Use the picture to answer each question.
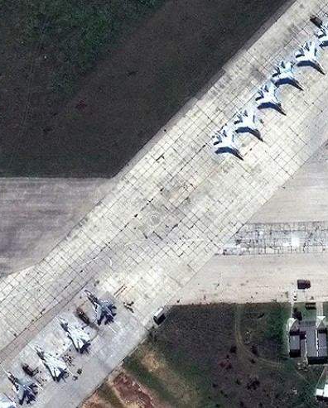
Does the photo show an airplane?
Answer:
Yes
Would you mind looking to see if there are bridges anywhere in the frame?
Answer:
No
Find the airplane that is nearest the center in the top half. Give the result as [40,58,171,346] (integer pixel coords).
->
[208,121,241,152]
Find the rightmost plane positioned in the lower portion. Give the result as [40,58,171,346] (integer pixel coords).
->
[85,290,115,325]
